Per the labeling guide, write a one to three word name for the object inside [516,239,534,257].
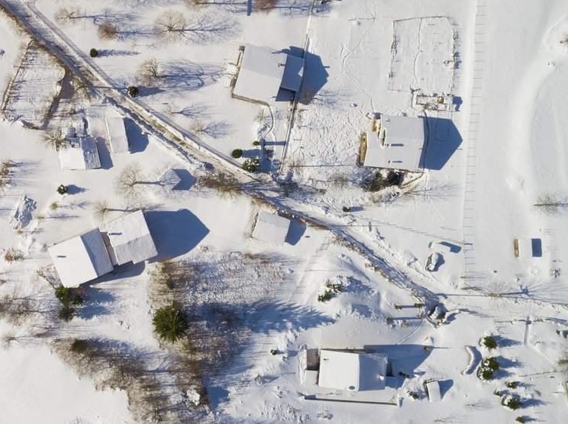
shed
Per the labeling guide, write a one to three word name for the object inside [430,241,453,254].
vehicle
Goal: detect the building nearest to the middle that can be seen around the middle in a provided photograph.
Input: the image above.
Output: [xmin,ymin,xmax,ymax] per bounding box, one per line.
[252,209,290,246]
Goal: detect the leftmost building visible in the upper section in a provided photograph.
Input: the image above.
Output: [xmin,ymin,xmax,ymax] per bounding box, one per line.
[59,137,102,169]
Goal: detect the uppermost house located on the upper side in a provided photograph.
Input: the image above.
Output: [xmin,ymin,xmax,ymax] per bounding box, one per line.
[233,44,305,102]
